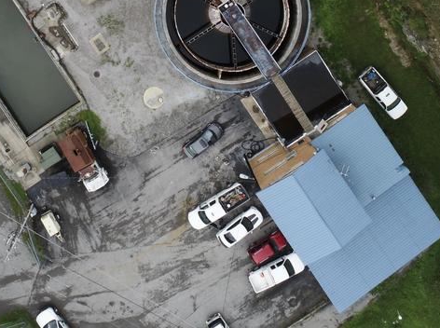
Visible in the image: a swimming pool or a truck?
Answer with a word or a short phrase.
truck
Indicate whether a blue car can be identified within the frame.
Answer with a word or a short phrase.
No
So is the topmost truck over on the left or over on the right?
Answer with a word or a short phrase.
right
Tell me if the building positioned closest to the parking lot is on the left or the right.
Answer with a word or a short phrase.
right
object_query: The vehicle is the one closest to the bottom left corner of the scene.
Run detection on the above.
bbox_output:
[37,305,66,328]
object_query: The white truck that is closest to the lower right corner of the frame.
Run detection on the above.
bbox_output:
[244,248,307,294]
